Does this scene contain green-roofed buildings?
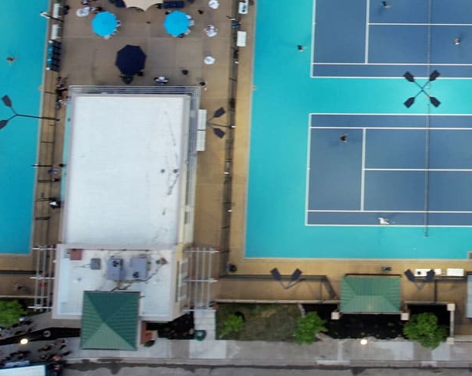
Yes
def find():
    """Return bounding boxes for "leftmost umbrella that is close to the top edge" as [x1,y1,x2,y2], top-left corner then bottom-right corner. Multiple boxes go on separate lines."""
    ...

[93,12,121,37]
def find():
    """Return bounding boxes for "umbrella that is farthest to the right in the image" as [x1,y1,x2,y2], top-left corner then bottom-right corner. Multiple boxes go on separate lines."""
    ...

[166,11,192,36]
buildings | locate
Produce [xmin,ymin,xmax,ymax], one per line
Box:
[340,275,403,313]
[23,86,219,350]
